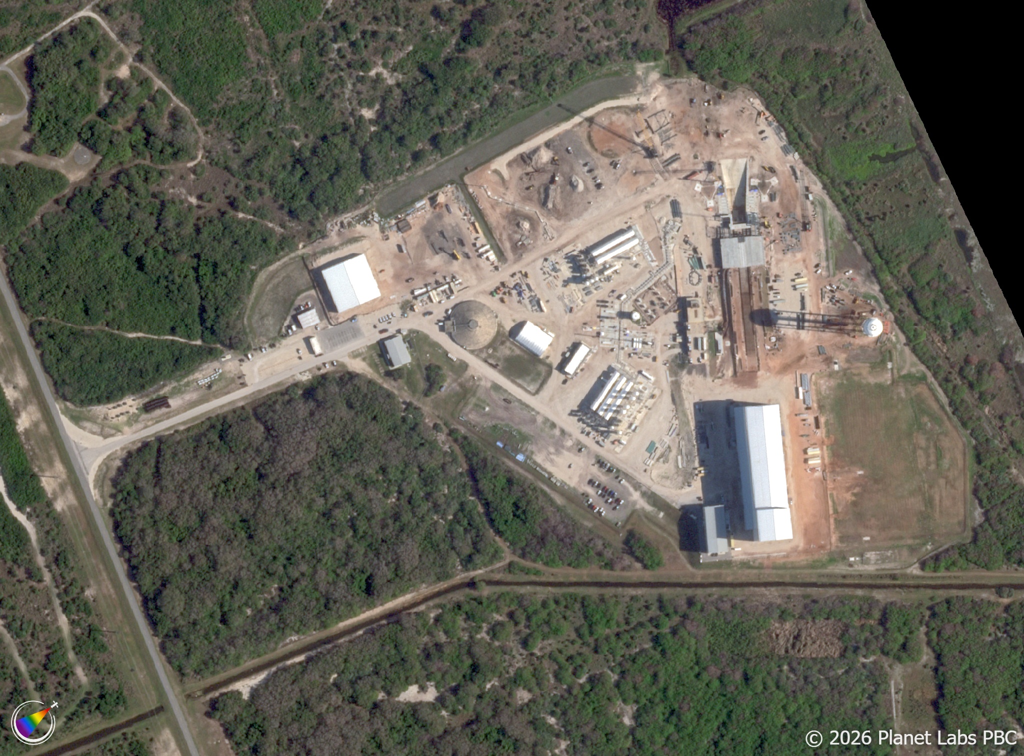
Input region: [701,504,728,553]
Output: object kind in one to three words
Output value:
building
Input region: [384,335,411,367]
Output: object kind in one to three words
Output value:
building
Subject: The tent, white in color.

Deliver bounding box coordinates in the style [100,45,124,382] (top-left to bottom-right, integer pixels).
[515,321,553,357]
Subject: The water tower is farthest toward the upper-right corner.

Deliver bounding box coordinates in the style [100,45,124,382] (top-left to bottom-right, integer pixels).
[844,315,884,340]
